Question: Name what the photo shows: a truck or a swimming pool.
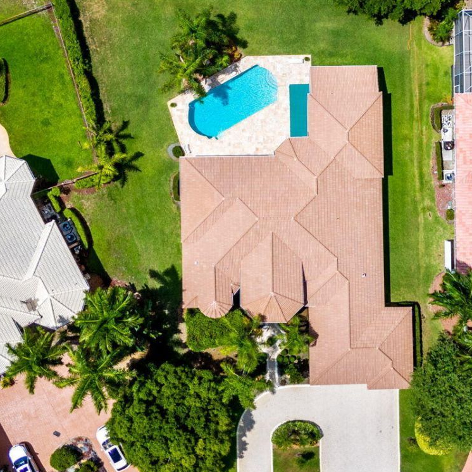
swimming pool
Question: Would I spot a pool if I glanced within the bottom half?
No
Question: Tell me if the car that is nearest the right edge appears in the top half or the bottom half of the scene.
bottom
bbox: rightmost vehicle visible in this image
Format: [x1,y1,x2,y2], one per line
[93,425,126,472]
